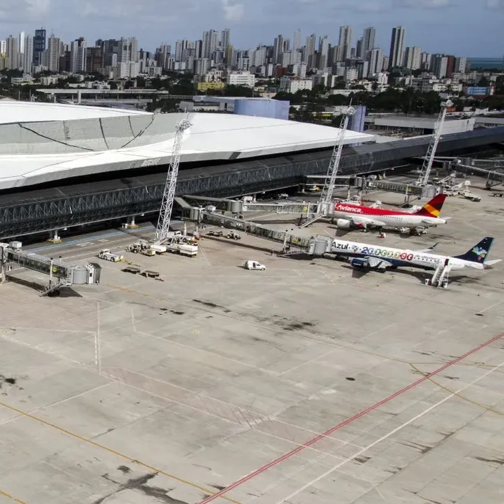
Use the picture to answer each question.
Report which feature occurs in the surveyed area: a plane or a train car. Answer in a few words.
plane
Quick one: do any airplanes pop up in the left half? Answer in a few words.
No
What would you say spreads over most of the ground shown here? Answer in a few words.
paved ground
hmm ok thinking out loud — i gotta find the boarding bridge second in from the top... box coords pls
[298,174,442,207]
